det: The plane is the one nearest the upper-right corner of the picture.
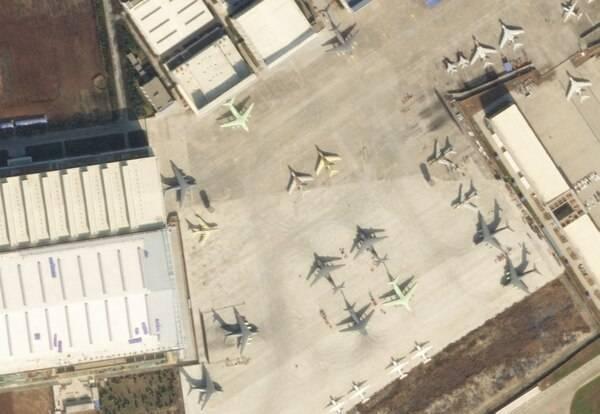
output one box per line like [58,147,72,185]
[563,2,580,23]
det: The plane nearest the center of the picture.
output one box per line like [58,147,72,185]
[288,168,315,196]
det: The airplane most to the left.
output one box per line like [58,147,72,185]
[161,166,196,206]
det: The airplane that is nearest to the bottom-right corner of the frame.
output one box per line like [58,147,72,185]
[501,255,536,292]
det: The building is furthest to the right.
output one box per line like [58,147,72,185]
[564,214,600,285]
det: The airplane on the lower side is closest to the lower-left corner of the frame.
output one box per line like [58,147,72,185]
[188,369,223,410]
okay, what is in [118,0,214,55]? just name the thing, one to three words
hangar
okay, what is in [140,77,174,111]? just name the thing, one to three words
building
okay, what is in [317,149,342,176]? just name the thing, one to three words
airplane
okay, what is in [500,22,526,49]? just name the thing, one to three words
airplane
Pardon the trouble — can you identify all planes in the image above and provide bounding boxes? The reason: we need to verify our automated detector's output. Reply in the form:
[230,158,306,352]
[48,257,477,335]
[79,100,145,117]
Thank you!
[317,149,342,176]
[427,139,455,166]
[501,255,536,292]
[220,99,255,132]
[471,39,498,67]
[383,278,418,310]
[460,56,470,70]
[188,369,223,410]
[327,399,347,414]
[161,166,196,206]
[500,22,526,49]
[288,168,315,196]
[223,314,260,354]
[563,2,580,23]
[325,25,360,58]
[339,304,375,338]
[310,258,345,292]
[411,344,432,361]
[353,231,388,264]
[389,362,409,378]
[567,74,592,101]
[475,217,510,253]
[451,183,480,210]
[192,217,221,245]
[349,385,369,402]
